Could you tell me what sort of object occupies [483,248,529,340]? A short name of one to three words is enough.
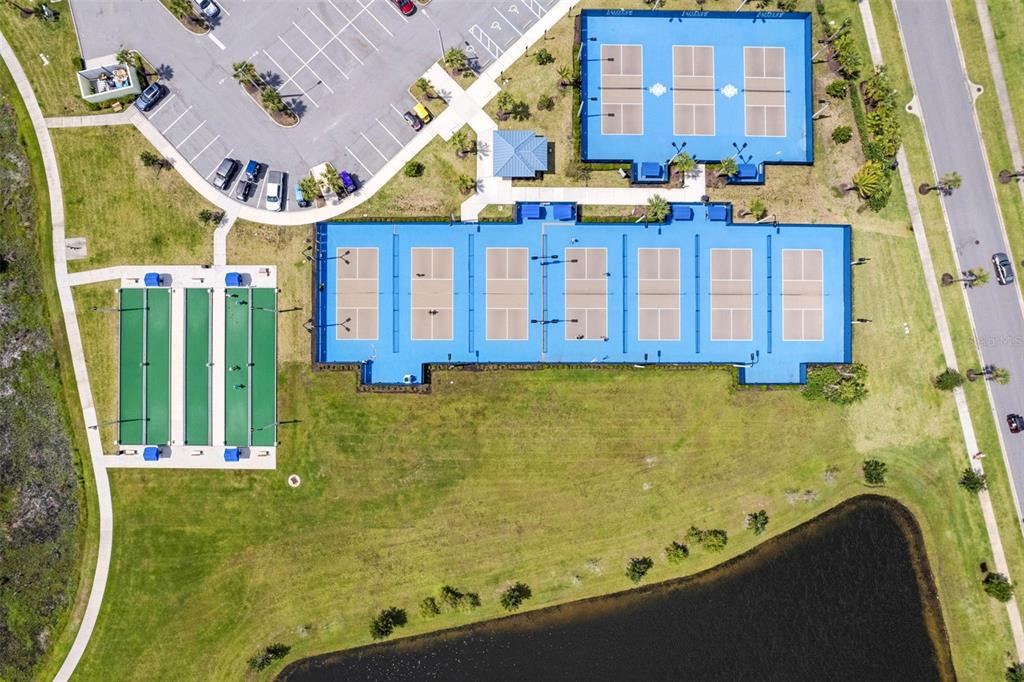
sports court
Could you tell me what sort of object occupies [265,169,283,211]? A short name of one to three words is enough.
vehicle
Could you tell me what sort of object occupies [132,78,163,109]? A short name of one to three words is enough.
car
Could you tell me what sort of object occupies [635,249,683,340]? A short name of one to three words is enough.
sports court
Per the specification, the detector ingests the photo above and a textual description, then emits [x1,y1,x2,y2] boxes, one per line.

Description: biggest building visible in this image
[493,130,547,179]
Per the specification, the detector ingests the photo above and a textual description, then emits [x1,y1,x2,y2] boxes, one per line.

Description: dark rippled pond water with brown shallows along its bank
[289,499,944,682]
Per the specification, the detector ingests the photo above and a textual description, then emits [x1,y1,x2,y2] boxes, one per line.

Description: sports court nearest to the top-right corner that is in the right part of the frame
[743,46,791,137]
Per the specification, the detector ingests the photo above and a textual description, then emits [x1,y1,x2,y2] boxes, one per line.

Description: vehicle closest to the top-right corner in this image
[993,253,1015,285]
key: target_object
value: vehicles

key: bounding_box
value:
[338,171,357,191]
[196,0,219,17]
[1008,414,1024,434]
[213,156,237,190]
[415,101,432,121]
[236,180,253,199]
[265,169,283,211]
[993,253,1015,285]
[292,184,308,204]
[244,161,261,182]
[403,108,421,129]
[132,78,163,109]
